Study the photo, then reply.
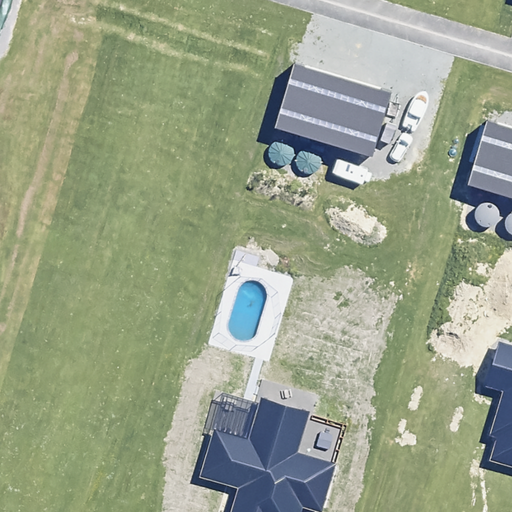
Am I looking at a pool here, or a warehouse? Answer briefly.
pool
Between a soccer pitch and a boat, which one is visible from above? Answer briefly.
boat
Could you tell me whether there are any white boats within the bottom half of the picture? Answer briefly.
No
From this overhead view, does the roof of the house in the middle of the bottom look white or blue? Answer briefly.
blue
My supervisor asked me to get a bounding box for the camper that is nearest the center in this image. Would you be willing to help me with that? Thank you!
[332,160,374,184]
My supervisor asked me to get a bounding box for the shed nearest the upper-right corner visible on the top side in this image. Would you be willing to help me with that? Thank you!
[468,120,512,198]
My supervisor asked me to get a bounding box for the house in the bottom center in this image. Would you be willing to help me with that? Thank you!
[200,398,336,512]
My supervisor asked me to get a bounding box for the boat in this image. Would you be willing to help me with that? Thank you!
[402,90,428,132]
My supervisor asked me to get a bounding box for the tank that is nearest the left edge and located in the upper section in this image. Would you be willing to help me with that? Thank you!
[268,142,294,167]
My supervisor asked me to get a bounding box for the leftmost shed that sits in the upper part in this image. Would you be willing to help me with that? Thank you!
[276,63,390,154]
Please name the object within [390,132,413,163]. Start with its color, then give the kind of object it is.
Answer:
white car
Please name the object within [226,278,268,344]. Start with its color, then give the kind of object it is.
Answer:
blue swimming pool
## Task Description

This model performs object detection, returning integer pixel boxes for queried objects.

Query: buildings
[484,341,512,468]
[200,398,336,512]
[276,63,390,154]
[468,120,512,198]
